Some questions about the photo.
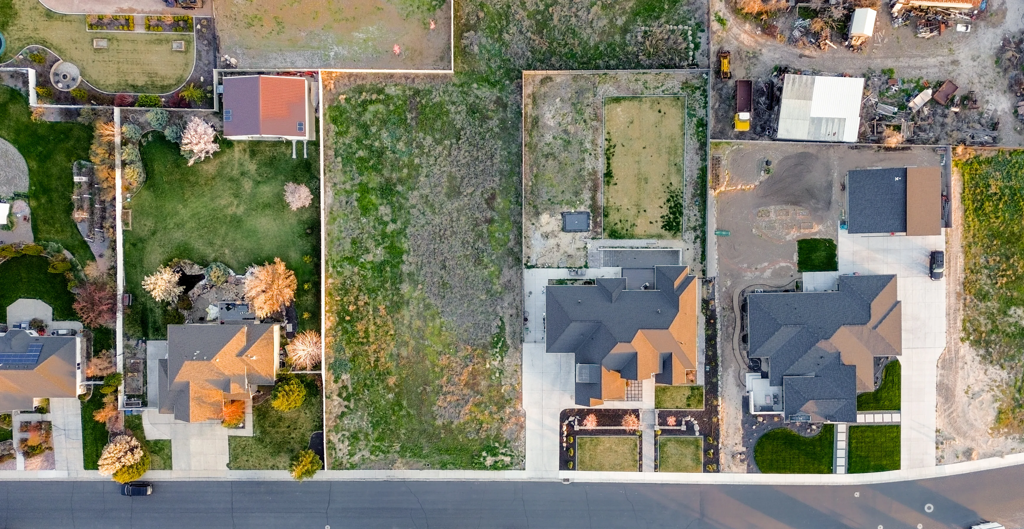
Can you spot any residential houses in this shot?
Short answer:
Yes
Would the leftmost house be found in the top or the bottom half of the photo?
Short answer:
bottom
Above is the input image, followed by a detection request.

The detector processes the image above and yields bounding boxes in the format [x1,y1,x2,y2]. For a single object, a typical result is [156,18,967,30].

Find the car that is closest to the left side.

[120,483,153,500]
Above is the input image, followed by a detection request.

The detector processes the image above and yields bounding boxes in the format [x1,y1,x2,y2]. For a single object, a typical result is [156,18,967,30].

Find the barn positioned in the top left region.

[222,75,308,140]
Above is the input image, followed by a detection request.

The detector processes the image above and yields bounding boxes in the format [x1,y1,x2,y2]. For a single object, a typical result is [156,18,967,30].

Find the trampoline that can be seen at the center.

[562,212,590,232]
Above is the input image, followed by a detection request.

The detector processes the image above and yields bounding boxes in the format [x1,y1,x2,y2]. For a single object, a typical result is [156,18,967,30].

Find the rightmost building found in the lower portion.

[743,274,902,423]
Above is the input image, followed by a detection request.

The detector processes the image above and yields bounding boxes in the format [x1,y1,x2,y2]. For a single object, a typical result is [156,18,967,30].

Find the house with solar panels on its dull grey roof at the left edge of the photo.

[0,325,88,412]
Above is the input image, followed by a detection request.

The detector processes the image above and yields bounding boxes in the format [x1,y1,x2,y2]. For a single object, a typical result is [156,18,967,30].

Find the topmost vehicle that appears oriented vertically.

[719,50,732,80]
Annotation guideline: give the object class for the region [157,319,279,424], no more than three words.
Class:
house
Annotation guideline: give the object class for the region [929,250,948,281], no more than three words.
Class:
car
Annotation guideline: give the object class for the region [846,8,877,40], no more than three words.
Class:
shed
